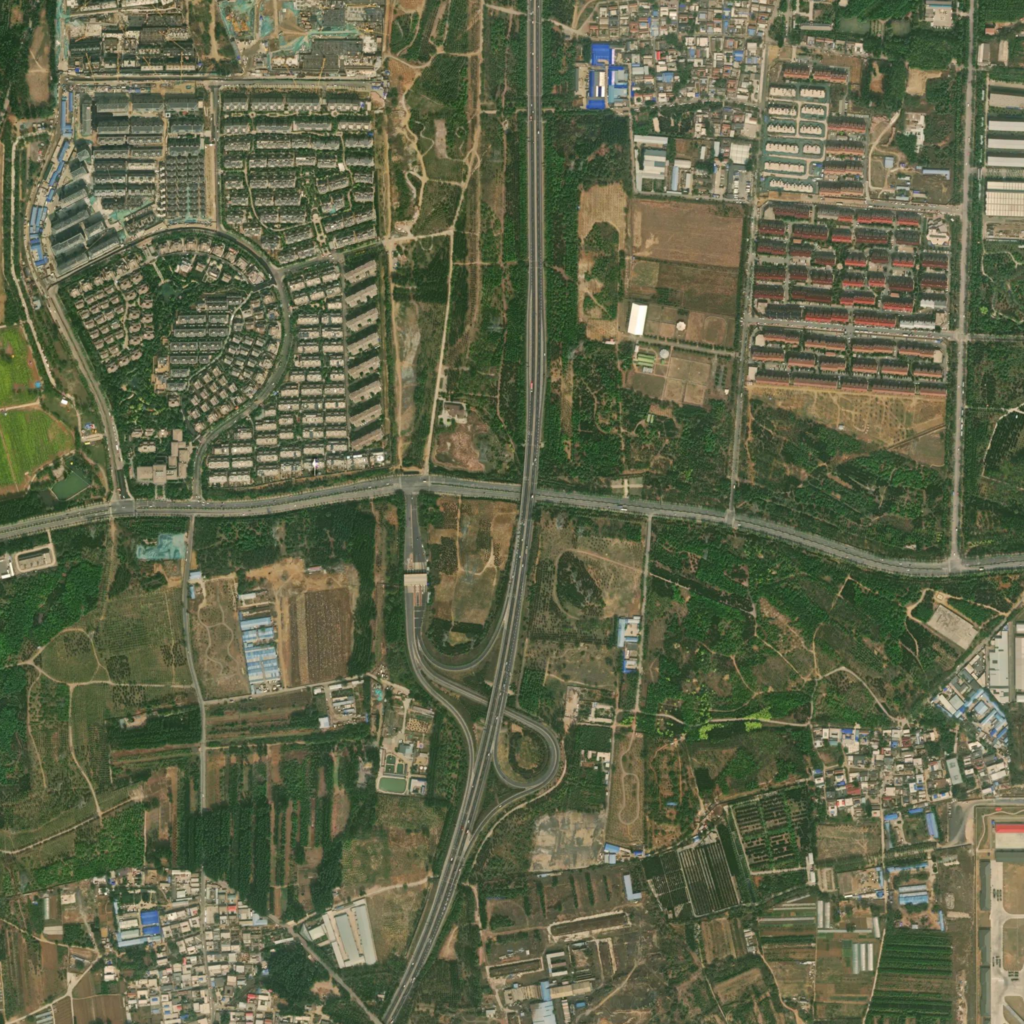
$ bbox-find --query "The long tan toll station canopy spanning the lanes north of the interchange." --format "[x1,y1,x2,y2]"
[404,570,427,599]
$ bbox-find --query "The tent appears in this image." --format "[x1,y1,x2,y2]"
[628,303,647,335]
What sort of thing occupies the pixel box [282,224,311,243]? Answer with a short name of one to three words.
house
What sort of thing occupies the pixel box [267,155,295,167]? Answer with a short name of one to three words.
house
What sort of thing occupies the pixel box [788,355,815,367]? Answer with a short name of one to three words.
building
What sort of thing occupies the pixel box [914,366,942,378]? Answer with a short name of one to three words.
building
